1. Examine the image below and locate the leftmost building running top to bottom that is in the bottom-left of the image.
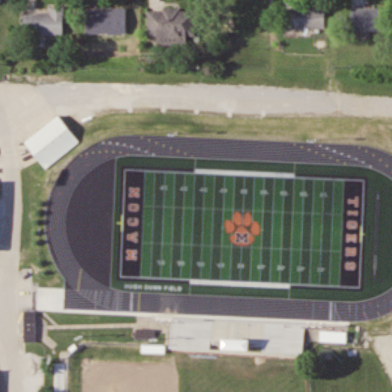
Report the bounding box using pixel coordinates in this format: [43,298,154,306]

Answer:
[24,312,36,342]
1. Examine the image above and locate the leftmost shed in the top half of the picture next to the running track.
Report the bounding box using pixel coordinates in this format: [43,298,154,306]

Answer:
[26,117,78,168]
